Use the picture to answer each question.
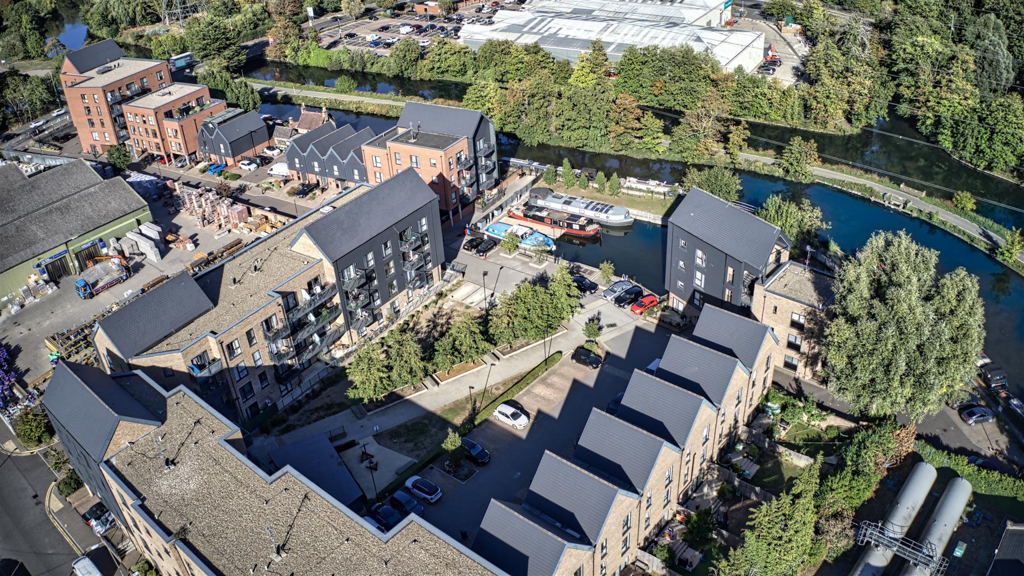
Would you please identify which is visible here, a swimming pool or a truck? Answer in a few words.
truck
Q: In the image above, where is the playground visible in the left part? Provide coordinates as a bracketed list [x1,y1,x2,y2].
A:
[340,436,410,498]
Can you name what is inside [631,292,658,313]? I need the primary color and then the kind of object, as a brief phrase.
red car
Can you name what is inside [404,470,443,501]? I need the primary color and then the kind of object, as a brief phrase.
black car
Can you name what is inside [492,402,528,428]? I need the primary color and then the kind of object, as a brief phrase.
white car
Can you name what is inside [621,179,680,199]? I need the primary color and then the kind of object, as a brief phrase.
white boat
